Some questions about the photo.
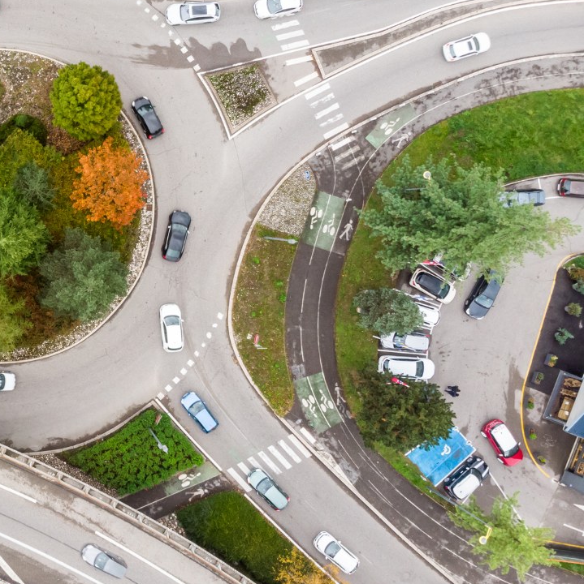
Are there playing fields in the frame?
No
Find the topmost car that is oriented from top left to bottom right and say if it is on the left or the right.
left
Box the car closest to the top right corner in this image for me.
[440,32,491,61]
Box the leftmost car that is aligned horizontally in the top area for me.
[164,0,222,26]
